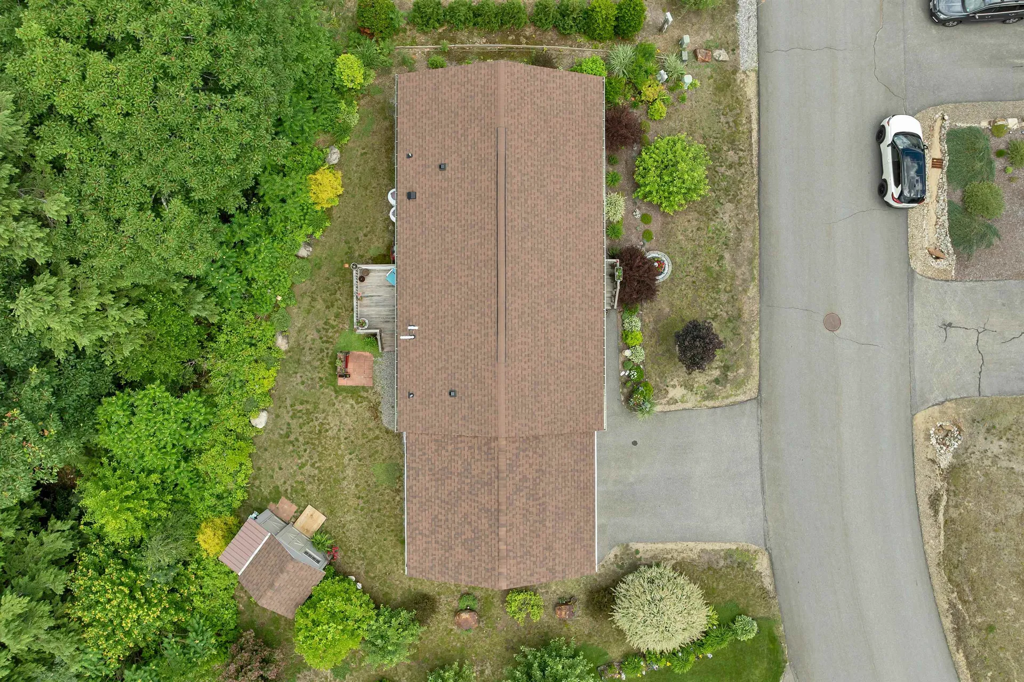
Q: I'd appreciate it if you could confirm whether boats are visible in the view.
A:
No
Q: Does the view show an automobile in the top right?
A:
Yes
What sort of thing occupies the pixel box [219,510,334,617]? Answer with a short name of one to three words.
shed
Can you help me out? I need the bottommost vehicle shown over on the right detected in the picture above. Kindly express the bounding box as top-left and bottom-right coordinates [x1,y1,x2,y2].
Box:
[872,115,929,210]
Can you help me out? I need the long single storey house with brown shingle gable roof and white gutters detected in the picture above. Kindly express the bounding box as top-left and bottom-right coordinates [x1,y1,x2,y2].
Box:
[396,59,606,588]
